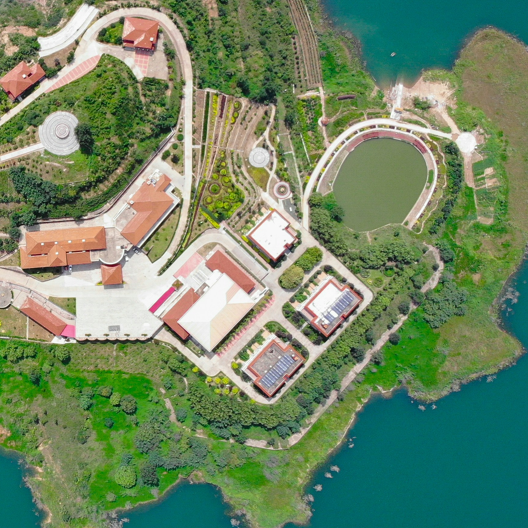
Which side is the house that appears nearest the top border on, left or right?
left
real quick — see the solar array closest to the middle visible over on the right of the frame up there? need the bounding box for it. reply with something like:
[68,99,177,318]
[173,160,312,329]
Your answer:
[324,292,353,325]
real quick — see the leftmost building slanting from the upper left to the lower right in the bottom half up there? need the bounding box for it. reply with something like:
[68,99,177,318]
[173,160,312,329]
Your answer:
[20,298,66,336]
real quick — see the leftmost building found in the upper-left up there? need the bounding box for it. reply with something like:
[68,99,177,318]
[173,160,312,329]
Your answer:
[0,61,46,100]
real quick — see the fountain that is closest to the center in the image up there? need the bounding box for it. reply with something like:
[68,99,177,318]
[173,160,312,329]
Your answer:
[273,181,291,199]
